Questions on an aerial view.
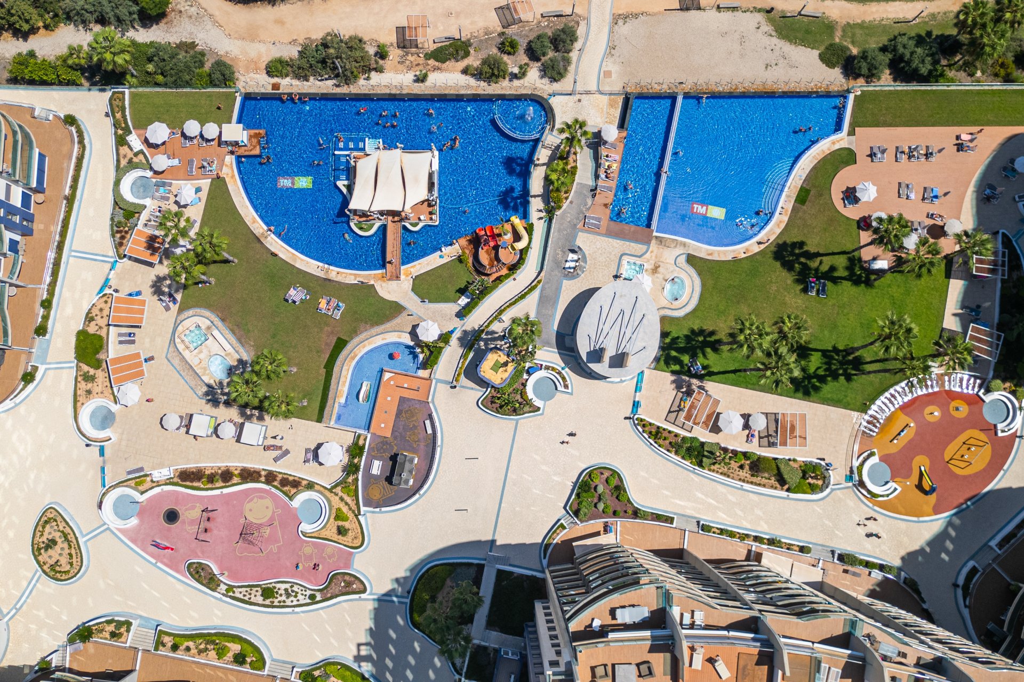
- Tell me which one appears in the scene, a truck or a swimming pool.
swimming pool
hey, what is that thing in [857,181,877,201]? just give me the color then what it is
white umbrella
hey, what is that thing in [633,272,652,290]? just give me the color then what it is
white umbrella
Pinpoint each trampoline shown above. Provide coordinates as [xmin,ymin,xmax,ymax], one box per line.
[162,507,180,525]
